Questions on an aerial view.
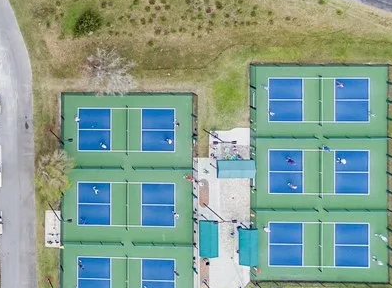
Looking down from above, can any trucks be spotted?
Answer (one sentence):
No, there is no truck in the image.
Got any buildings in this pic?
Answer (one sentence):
No, there appears to be no building in this shot.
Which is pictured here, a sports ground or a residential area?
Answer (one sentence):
This image shows a sports ground.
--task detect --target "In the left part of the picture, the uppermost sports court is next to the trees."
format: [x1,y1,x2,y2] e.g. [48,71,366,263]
[65,95,193,169]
